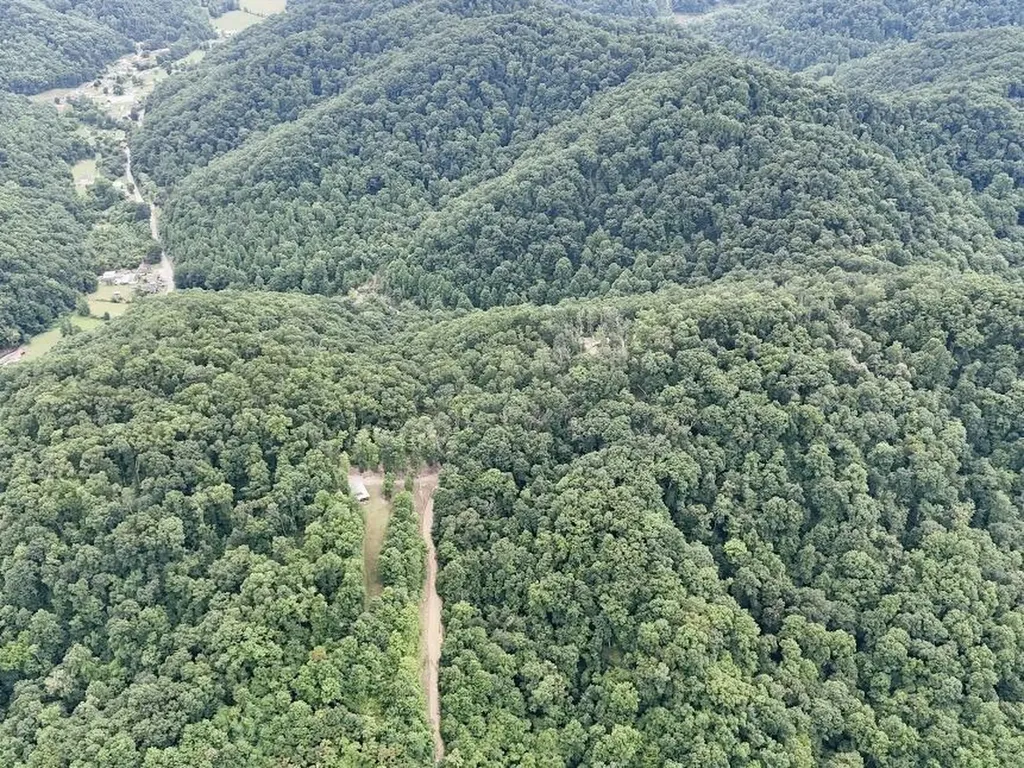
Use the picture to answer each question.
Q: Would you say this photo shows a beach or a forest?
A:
forest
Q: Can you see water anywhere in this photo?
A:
No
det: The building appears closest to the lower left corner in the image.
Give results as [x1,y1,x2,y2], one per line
[351,476,372,505]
